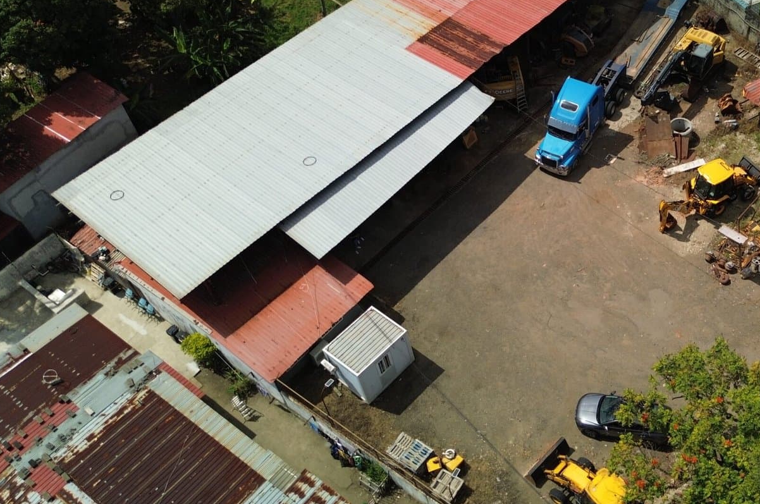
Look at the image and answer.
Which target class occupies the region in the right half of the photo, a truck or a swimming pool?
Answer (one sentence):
It is a truck that can be seen in the right half of the photo.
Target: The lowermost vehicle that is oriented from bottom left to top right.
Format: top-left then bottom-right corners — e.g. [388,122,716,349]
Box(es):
[660,151,760,227]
